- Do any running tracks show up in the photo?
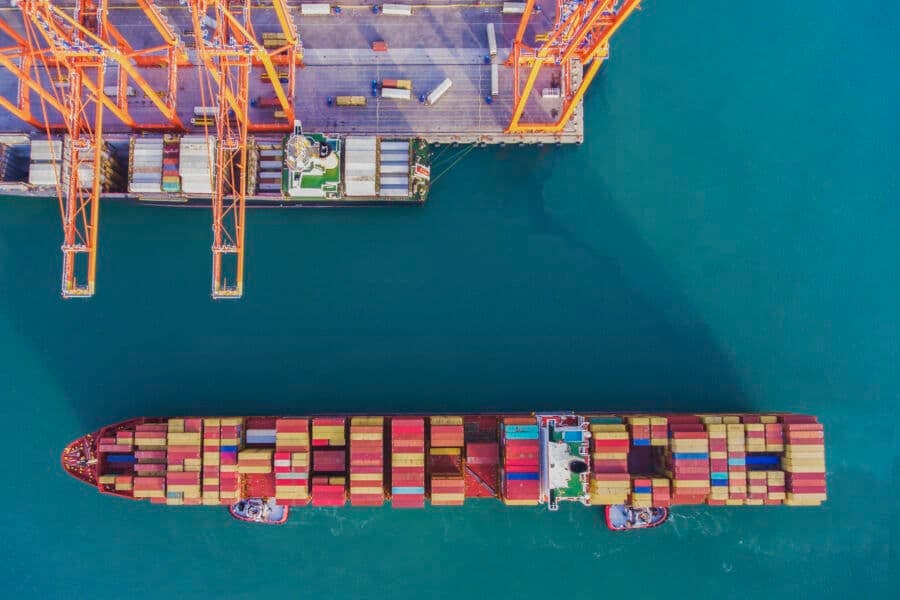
No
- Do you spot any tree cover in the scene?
No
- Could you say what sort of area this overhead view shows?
port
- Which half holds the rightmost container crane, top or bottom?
top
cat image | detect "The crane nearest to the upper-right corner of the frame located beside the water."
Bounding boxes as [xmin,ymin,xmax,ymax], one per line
[503,0,639,129]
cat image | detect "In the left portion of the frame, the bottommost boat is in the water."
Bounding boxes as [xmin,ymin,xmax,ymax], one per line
[228,499,291,524]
